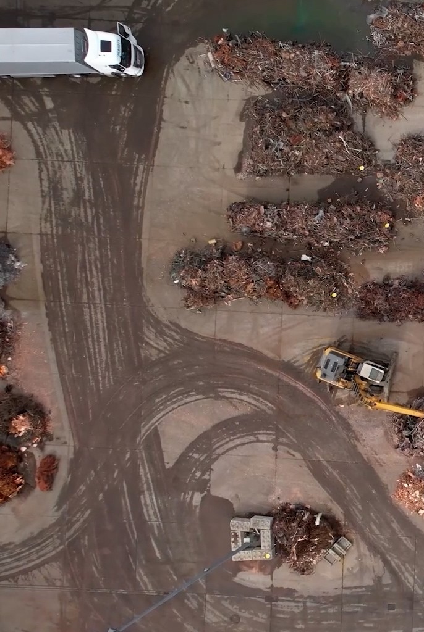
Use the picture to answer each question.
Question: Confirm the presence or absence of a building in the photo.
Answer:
No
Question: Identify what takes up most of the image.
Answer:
paved ground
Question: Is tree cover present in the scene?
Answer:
No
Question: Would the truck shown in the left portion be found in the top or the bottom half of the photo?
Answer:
top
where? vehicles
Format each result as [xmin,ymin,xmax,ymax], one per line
[314,343,424,420]
[0,22,145,76]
